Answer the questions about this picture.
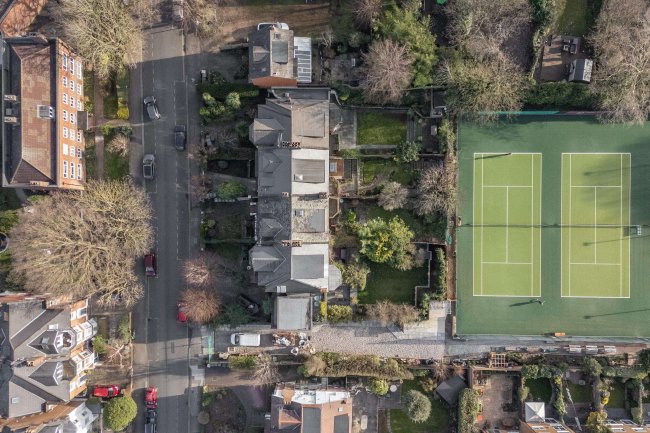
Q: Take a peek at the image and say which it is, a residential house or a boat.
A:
residential house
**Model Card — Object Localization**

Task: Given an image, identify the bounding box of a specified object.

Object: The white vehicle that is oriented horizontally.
[230,333,261,347]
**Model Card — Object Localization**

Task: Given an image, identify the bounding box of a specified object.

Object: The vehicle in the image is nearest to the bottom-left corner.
[94,384,120,397]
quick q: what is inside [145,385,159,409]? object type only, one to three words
vehicle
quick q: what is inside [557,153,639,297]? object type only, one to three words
tennis court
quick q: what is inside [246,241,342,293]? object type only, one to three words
house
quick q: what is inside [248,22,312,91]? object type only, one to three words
house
